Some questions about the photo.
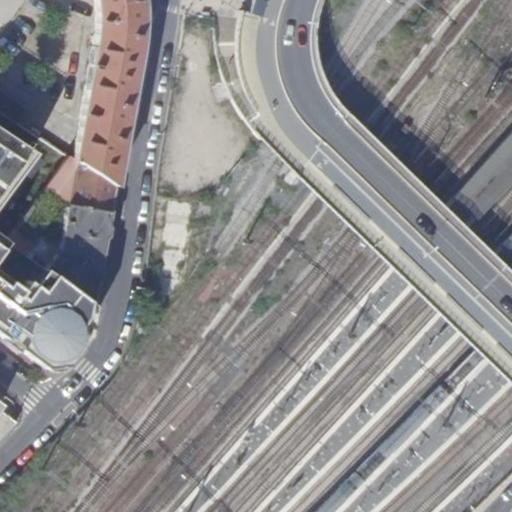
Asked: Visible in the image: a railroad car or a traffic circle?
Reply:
railroad car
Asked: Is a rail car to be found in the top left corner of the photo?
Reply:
No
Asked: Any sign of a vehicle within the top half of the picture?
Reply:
Yes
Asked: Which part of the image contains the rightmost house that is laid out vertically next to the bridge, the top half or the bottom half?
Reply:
top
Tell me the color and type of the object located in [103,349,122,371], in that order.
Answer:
white car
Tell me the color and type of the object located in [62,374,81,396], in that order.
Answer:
white car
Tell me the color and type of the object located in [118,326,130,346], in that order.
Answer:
white vehicle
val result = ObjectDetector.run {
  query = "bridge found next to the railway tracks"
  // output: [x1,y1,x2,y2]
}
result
[235,0,512,382]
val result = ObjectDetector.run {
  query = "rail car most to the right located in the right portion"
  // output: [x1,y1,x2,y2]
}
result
[446,348,486,389]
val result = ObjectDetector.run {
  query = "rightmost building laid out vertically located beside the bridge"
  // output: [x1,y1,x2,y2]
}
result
[76,0,150,188]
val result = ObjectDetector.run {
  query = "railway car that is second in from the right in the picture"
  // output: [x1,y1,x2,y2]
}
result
[357,384,451,479]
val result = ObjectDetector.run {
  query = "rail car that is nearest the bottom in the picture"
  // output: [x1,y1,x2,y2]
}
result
[314,471,364,512]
